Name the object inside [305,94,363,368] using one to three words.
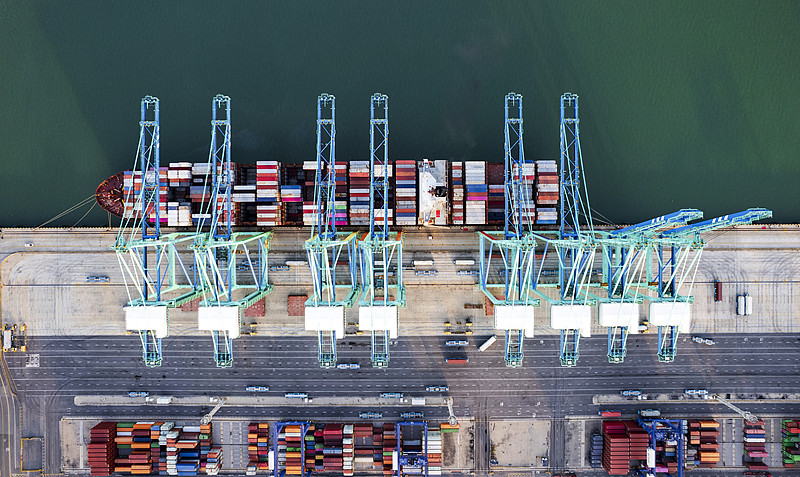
container crane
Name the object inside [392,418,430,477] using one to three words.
crane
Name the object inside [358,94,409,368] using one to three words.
container crane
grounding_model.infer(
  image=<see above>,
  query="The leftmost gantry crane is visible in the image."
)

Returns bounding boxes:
[114,94,212,369]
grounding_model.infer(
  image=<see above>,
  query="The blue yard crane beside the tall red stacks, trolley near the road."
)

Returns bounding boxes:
[636,418,684,477]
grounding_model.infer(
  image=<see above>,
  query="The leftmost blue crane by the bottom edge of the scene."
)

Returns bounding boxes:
[271,419,314,477]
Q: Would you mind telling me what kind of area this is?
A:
port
